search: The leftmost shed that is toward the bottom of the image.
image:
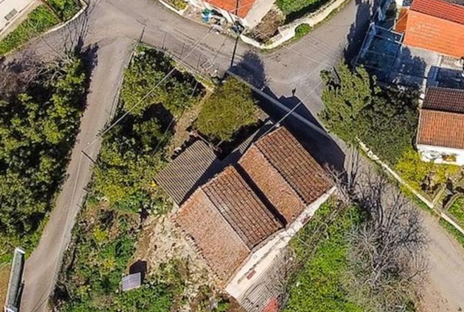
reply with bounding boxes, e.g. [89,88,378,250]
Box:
[122,272,148,293]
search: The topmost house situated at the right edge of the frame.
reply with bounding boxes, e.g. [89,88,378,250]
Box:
[405,0,464,63]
